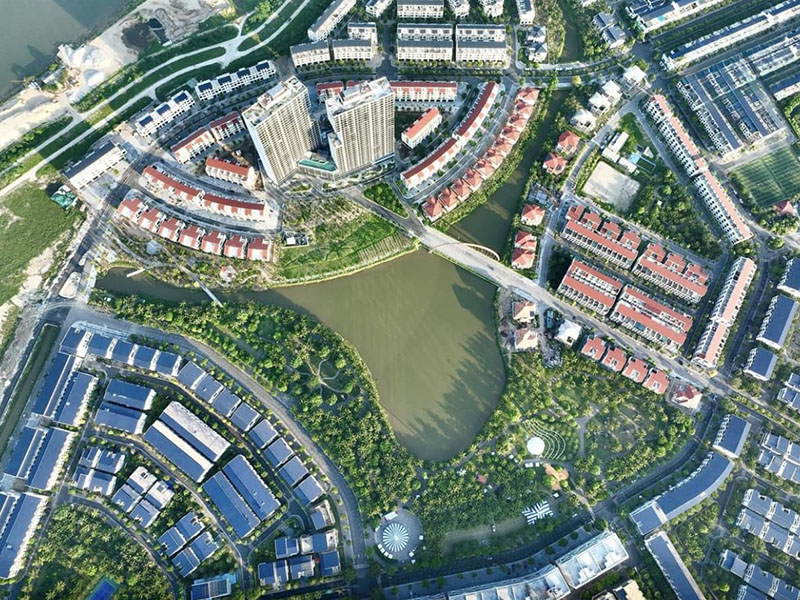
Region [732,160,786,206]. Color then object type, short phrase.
green soccer field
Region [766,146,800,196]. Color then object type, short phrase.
green soccer field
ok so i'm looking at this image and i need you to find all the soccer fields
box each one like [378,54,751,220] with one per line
[766,146,800,196]
[732,160,786,206]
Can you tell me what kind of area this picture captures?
residential area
